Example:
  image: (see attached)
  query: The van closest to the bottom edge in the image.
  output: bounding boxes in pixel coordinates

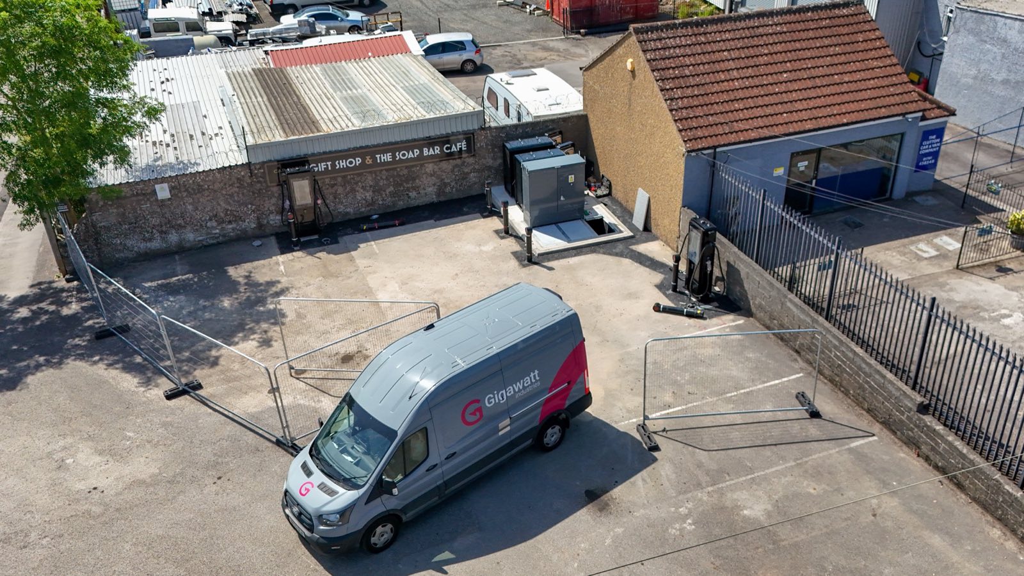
[282,275,593,554]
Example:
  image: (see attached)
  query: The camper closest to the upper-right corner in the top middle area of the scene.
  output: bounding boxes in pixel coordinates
[484,68,580,119]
